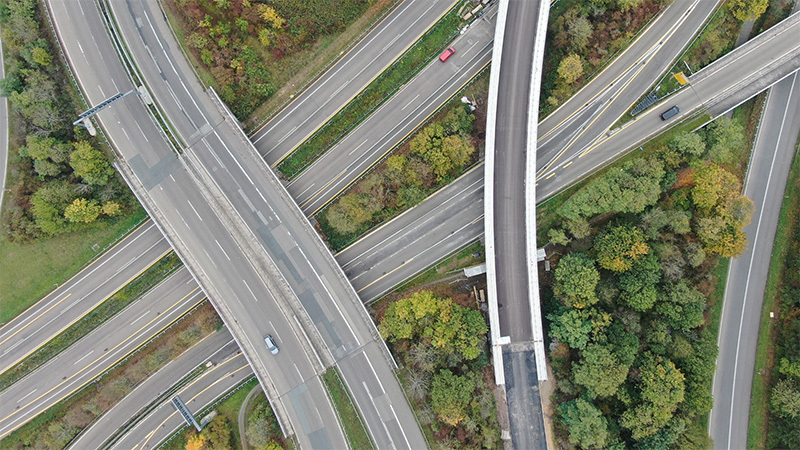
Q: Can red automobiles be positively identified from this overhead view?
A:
Yes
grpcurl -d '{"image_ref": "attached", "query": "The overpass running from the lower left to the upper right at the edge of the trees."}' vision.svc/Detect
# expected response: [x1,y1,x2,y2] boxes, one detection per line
[687,11,800,130]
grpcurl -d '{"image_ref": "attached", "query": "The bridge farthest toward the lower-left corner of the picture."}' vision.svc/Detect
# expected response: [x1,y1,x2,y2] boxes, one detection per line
[113,86,398,438]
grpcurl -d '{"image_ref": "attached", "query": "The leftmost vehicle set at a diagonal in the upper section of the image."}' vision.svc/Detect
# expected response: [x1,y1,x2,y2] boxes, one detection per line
[439,46,456,62]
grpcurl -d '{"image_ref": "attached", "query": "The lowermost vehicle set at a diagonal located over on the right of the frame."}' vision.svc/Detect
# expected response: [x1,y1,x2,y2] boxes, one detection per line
[662,104,682,120]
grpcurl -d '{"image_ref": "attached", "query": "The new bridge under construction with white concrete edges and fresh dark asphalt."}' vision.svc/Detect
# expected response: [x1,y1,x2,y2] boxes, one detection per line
[484,0,550,385]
